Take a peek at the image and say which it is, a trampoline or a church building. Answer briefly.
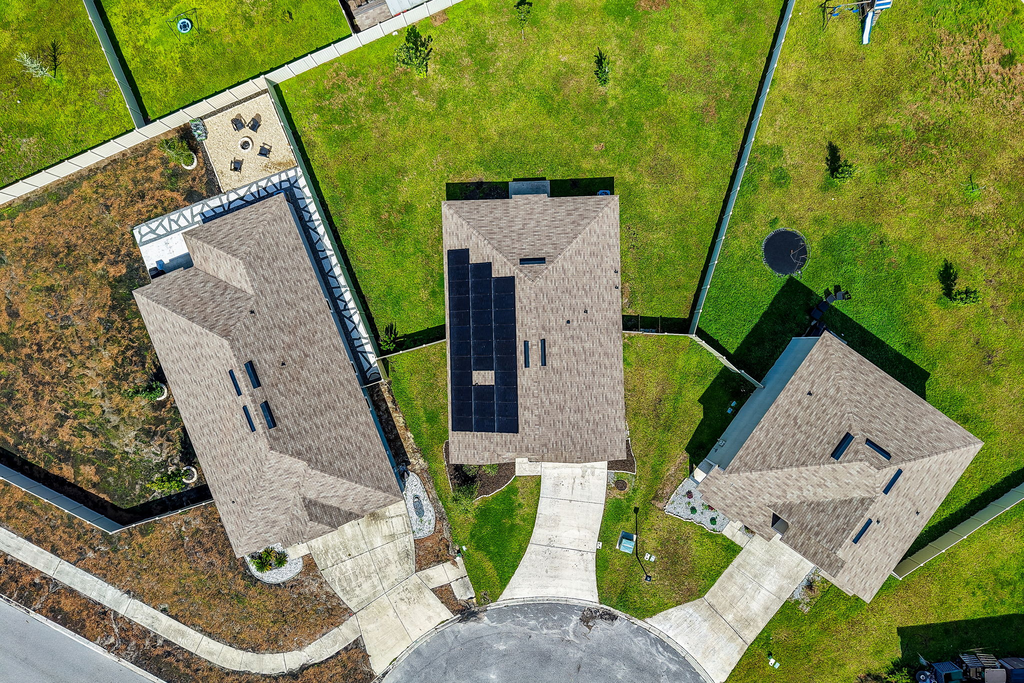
trampoline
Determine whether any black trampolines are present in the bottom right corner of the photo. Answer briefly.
No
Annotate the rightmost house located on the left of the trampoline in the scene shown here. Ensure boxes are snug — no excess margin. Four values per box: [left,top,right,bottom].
[440,194,626,465]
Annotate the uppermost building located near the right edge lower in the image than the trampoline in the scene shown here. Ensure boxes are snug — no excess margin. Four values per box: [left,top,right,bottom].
[690,330,984,603]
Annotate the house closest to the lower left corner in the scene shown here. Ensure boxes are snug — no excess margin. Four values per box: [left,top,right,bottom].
[132,193,404,559]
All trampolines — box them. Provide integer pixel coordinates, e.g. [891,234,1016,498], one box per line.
[762,229,809,276]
